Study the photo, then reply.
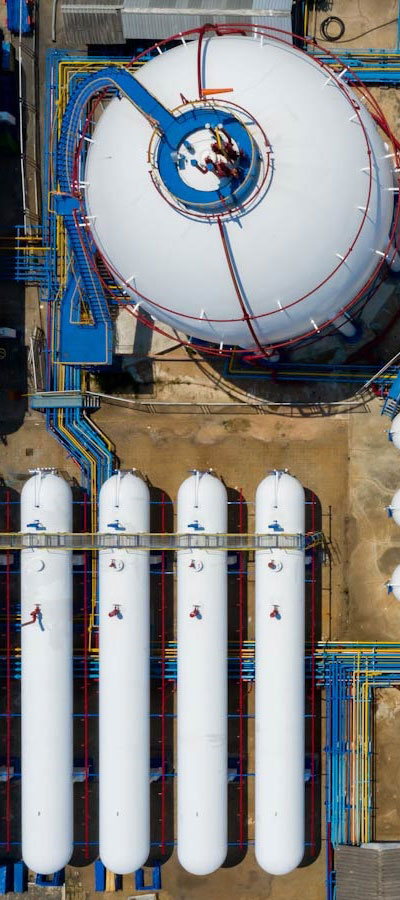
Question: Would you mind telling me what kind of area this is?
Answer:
industrial area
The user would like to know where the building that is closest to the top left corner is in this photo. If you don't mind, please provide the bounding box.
[47,0,125,43]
